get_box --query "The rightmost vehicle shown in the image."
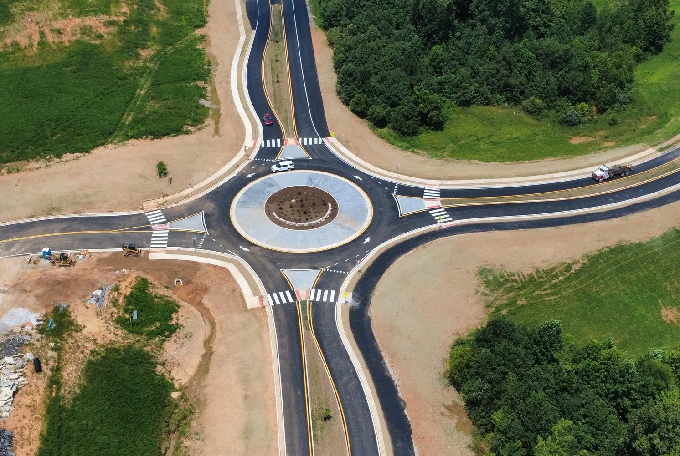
[590,161,637,181]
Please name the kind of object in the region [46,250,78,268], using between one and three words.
work vehicle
